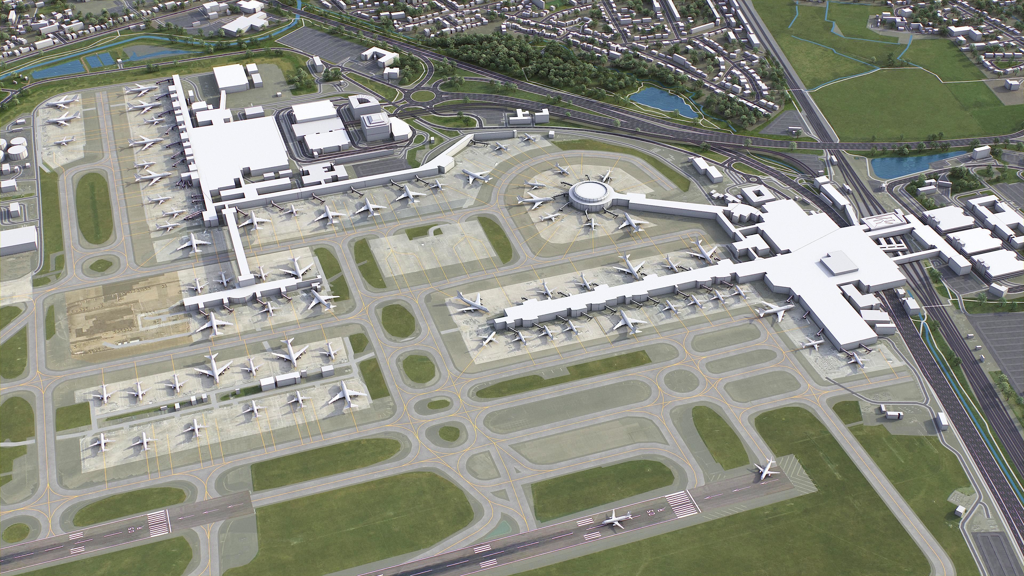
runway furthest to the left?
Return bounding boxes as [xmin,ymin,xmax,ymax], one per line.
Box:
[0,490,254,573]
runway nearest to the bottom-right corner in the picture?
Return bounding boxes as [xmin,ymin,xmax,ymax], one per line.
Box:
[350,466,795,576]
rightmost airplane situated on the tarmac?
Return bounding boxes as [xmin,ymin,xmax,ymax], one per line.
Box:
[848,352,871,368]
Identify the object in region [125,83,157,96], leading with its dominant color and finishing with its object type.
white airplane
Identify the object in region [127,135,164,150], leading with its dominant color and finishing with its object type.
white airplane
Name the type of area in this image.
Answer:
airport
